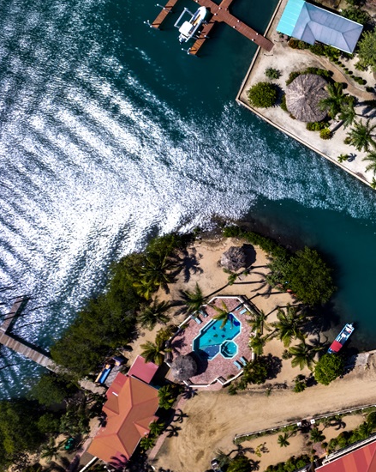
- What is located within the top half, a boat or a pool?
boat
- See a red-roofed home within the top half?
No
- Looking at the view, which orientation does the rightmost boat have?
on a diagonal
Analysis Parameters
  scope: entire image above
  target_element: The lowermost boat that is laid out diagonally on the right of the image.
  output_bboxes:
[327,322,357,354]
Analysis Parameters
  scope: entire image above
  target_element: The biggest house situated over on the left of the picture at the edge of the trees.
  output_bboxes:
[87,372,167,470]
